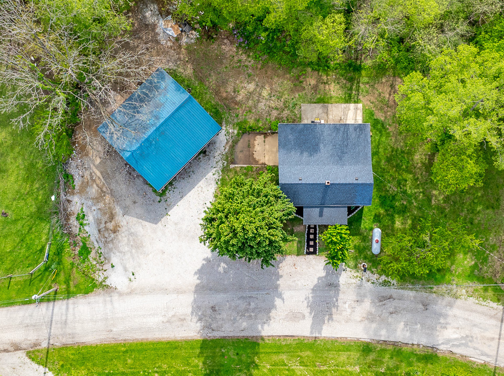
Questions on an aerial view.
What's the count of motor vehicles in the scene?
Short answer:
0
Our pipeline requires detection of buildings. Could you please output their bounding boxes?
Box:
[99,68,222,192]
[278,123,376,225]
